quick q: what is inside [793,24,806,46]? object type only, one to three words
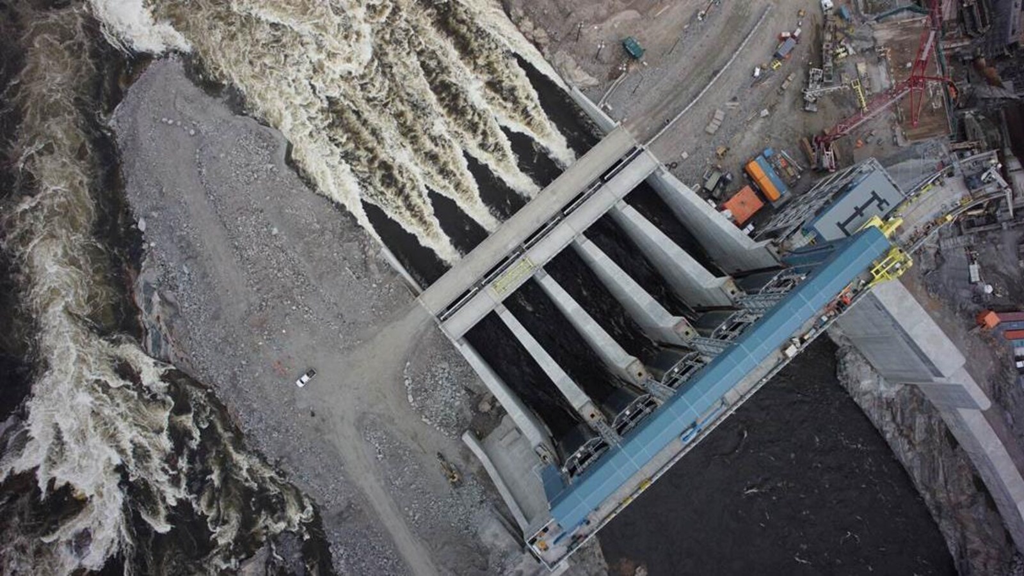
vehicle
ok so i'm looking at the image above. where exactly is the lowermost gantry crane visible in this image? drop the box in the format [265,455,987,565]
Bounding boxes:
[853,215,912,286]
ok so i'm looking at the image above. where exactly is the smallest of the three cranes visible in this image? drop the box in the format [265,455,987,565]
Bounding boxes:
[800,69,863,110]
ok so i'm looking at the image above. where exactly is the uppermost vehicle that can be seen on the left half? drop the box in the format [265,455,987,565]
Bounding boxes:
[294,368,317,389]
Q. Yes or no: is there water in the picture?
Yes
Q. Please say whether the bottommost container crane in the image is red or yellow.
yellow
